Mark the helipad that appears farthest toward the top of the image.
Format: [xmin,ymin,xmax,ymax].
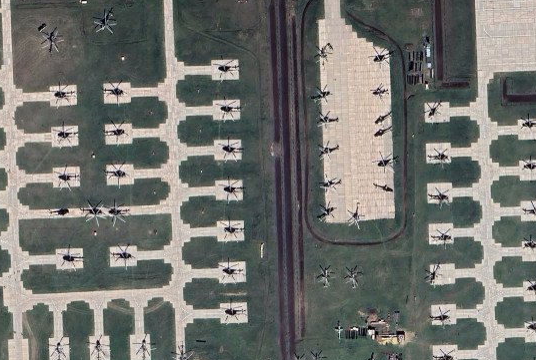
[212,59,239,79]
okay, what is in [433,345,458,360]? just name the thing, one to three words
helipad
